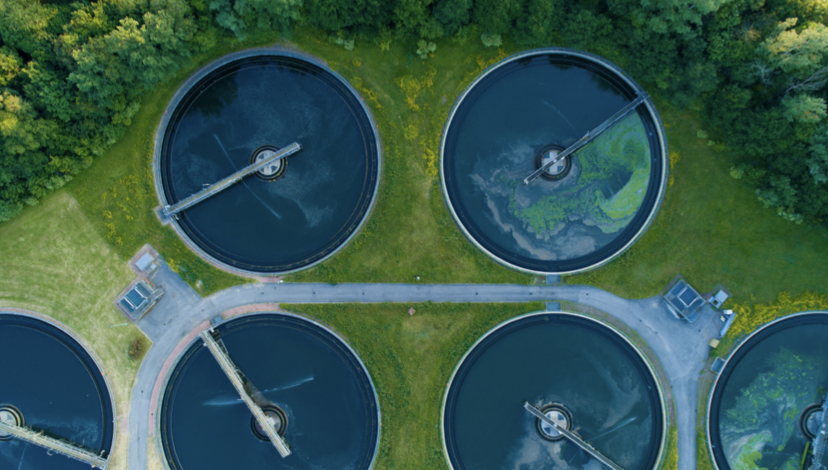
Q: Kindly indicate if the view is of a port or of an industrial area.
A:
industrial area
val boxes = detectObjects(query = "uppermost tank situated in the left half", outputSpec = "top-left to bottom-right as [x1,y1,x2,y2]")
[154,47,383,276]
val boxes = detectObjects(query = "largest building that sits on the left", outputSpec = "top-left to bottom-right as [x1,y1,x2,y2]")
[117,282,163,319]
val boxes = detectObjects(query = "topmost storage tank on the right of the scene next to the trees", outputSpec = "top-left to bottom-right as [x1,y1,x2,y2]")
[440,47,669,276]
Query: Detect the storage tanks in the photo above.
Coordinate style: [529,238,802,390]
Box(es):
[154,47,383,276]
[154,308,383,470]
[440,47,669,276]
[703,308,828,470]
[440,308,669,470]
[0,308,120,470]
